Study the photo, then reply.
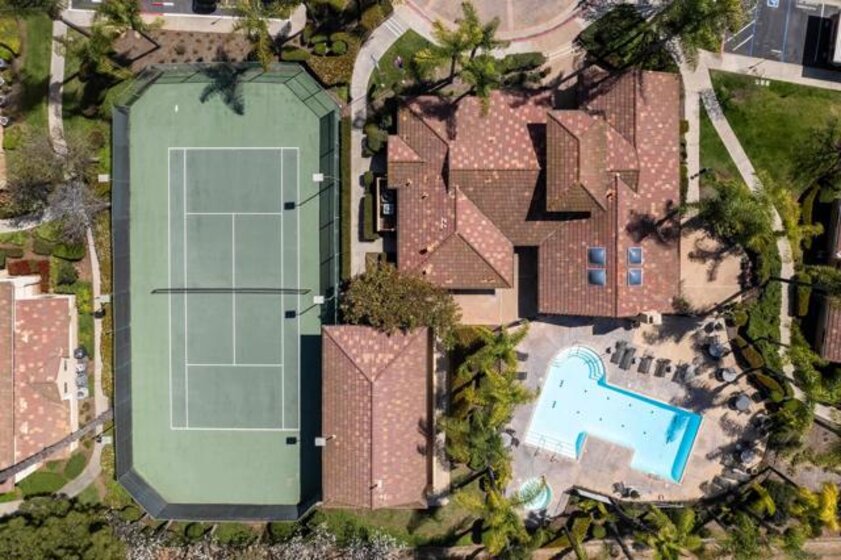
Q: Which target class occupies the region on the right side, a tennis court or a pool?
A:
pool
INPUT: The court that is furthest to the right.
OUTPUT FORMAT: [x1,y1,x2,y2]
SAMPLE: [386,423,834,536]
[129,63,342,506]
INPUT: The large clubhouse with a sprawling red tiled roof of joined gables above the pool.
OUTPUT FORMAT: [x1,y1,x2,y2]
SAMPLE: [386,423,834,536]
[388,63,680,325]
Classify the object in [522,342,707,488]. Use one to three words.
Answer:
swimming pool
